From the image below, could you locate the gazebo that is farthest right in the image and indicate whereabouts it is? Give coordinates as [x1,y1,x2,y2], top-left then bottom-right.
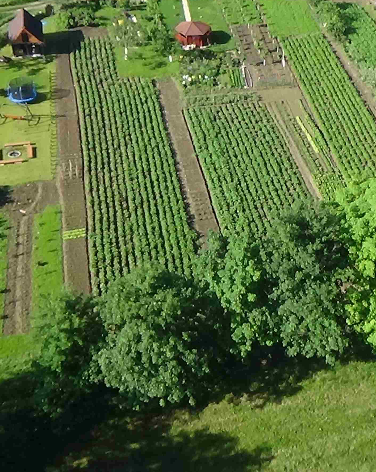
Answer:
[174,20,212,52]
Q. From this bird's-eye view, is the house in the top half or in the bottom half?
top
